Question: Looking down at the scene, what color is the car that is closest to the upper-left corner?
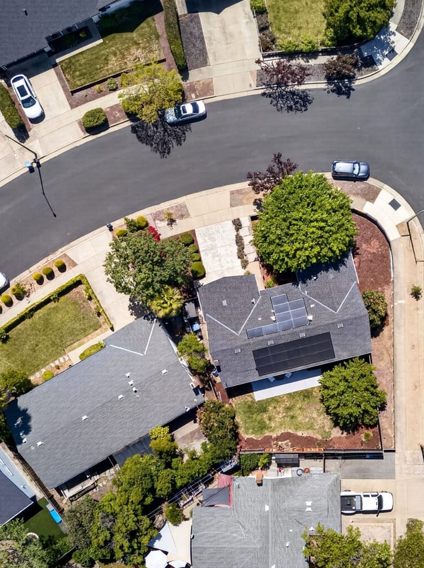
white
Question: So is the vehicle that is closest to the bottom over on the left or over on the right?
right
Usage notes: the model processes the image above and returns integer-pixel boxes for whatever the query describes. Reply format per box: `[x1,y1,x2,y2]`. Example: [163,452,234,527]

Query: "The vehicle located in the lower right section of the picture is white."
[341,491,393,514]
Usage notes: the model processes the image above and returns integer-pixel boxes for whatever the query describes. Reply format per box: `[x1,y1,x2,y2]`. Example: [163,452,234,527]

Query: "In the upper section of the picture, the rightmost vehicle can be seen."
[331,161,370,181]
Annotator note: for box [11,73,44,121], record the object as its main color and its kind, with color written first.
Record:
white car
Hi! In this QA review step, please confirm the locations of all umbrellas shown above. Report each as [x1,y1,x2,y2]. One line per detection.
[169,559,187,567]
[146,548,168,568]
